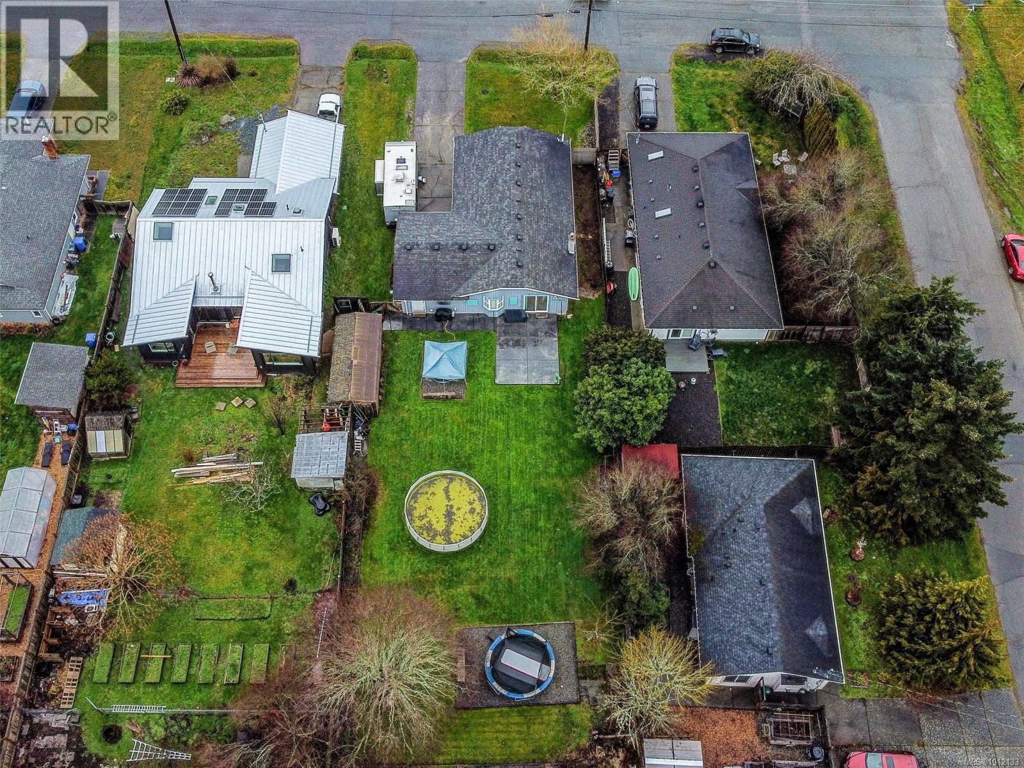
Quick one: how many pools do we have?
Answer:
one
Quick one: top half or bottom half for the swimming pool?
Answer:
bottom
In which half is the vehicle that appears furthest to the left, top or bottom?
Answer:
top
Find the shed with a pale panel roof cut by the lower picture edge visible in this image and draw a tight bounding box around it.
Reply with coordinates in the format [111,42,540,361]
[643,739,703,768]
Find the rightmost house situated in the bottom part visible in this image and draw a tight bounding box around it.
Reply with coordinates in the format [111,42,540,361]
[680,455,852,694]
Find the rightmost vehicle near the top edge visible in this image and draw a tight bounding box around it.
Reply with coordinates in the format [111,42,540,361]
[709,25,764,55]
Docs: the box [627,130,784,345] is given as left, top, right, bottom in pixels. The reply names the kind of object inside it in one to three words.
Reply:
house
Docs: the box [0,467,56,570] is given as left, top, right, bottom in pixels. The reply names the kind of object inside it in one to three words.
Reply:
greenhouse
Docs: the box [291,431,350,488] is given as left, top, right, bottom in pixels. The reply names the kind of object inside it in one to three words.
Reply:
shed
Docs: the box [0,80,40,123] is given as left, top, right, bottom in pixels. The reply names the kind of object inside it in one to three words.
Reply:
vehicle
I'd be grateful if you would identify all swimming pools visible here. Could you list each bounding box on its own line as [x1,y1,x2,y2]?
[405,470,489,554]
